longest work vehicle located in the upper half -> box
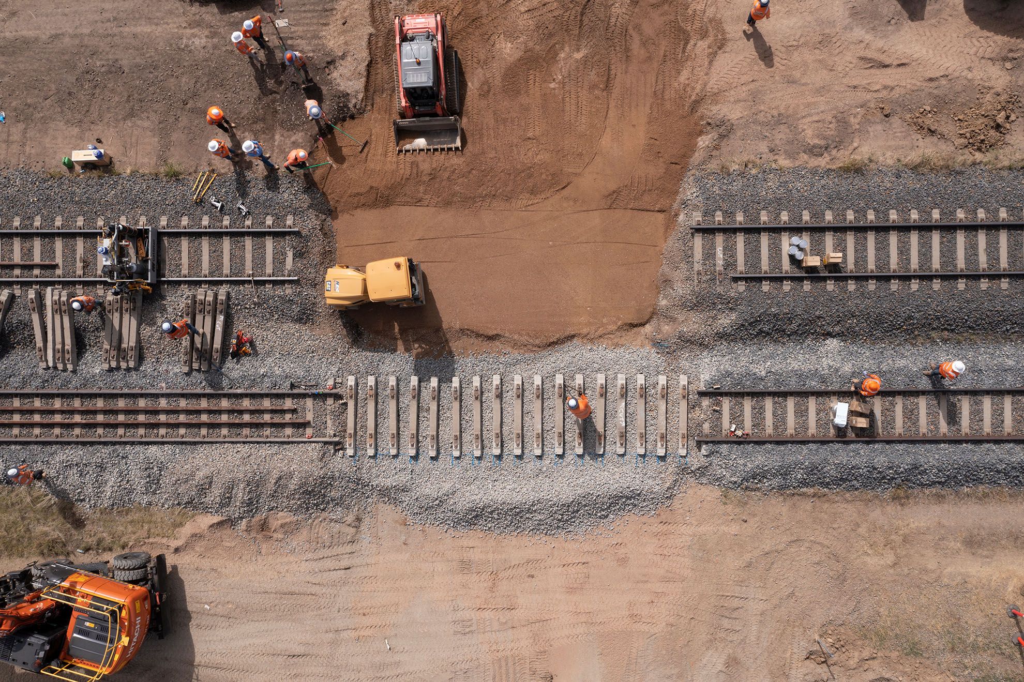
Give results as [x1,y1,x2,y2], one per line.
[389,13,464,159]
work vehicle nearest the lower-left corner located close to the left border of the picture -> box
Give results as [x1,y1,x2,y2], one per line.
[0,551,172,682]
